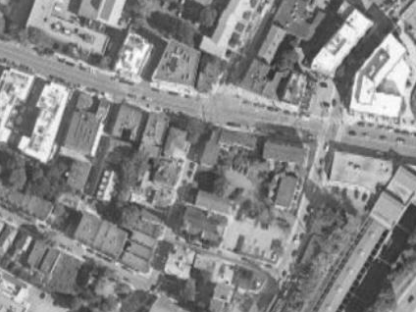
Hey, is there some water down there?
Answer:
No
